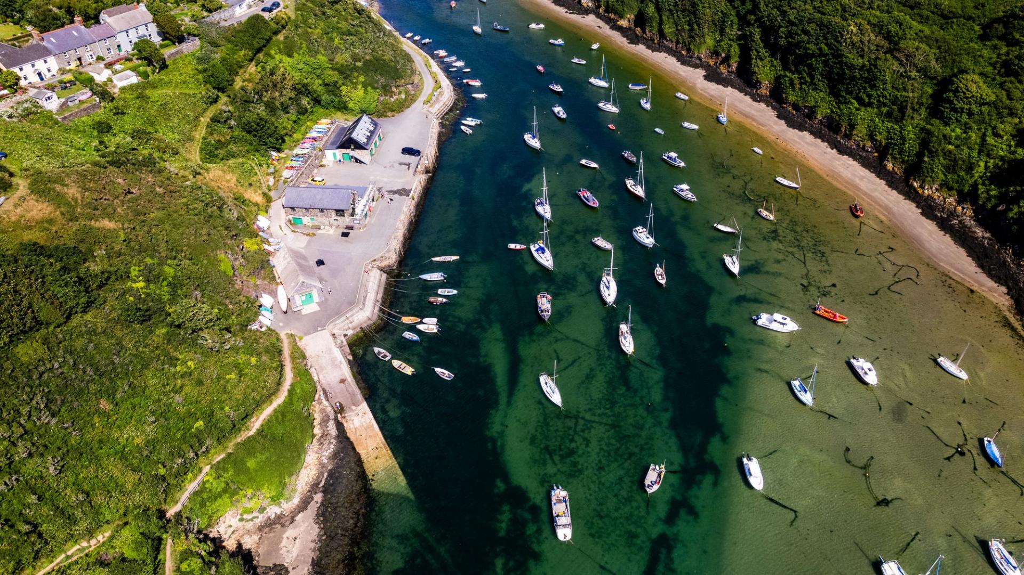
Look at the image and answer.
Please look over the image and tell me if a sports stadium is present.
No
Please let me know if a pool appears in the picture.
No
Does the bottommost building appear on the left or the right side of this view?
left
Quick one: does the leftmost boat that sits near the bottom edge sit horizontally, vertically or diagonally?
vertically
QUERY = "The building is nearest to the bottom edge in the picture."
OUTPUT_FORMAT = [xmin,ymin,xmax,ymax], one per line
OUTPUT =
[270,229,324,317]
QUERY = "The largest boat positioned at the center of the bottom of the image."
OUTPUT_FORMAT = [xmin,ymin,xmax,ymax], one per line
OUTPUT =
[551,484,572,553]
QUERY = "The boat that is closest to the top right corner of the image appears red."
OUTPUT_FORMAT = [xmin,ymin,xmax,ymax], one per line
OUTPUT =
[847,197,865,220]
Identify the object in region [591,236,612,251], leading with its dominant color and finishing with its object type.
white boat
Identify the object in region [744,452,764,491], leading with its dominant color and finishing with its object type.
white boat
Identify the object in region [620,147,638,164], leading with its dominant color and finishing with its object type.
gray boat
